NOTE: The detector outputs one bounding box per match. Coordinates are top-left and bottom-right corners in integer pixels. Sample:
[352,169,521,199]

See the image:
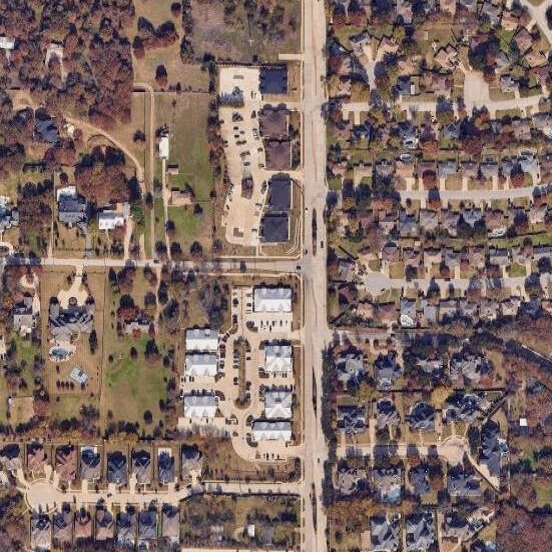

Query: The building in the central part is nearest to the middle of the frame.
[254,288,292,313]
